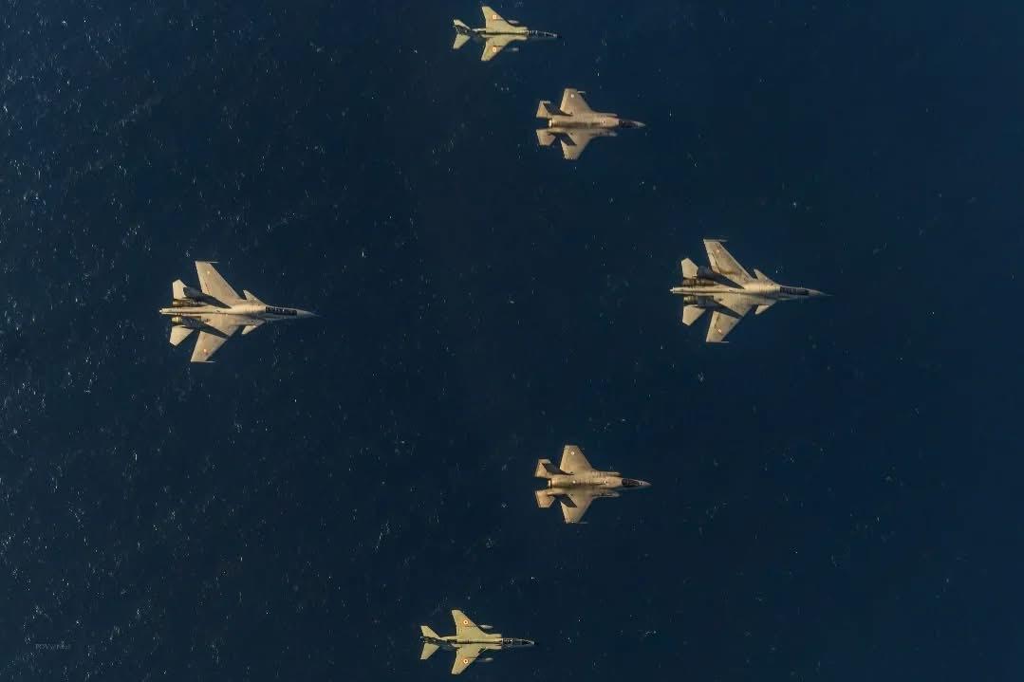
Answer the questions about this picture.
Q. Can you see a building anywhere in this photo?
No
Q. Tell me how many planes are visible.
6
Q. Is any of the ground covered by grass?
No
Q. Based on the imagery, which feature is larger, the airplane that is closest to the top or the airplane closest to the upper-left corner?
the airplane closest to the upper-left corner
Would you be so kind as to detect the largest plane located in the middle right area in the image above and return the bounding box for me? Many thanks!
[669,241,829,343]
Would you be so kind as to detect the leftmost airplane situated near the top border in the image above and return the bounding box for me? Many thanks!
[453,6,559,59]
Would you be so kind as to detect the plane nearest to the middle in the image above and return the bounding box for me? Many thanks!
[536,445,651,523]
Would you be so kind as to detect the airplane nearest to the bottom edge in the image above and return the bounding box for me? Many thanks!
[420,610,534,674]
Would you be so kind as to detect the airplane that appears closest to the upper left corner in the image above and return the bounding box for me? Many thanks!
[158,262,314,363]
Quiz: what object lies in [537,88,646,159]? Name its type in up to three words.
airplane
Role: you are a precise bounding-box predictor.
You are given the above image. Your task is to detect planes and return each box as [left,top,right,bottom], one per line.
[536,445,651,523]
[158,262,314,363]
[537,88,646,159]
[420,610,534,674]
[669,241,829,343]
[453,6,559,59]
